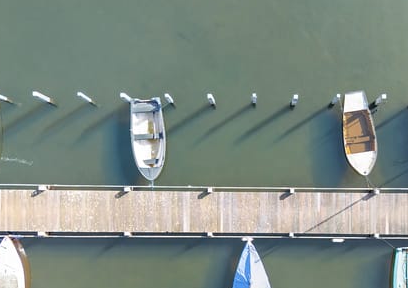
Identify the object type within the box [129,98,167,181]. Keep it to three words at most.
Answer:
boat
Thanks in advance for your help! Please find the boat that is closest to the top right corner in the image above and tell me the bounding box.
[343,91,379,177]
